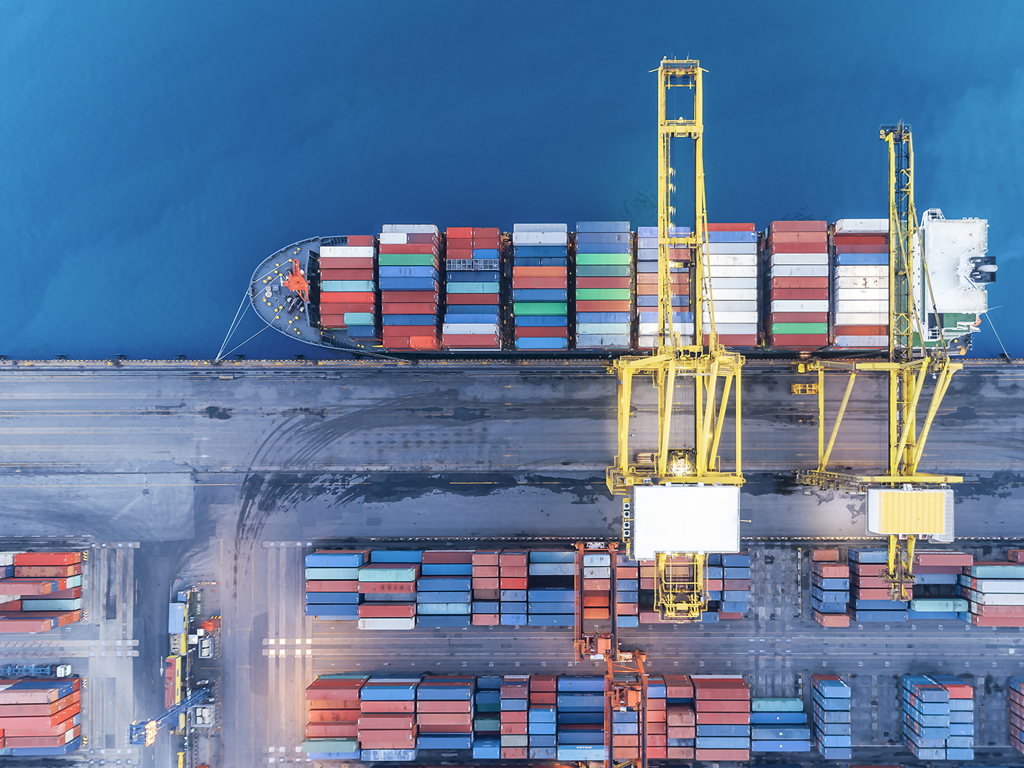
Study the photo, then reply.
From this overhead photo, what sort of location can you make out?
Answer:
port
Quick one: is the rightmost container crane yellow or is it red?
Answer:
yellow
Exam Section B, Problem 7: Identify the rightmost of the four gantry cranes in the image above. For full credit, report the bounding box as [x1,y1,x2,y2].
[792,119,966,600]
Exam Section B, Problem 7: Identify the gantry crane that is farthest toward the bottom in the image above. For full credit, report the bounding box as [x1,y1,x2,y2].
[602,652,649,768]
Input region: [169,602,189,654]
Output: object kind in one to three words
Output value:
building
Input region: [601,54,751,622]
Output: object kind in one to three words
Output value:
container crane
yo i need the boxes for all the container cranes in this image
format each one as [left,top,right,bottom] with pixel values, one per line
[792,119,966,600]
[573,542,621,665]
[601,54,751,622]
[602,652,649,768]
